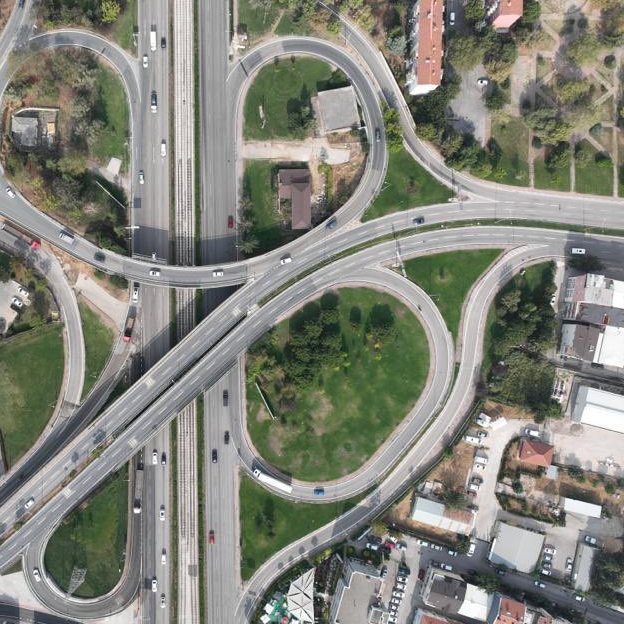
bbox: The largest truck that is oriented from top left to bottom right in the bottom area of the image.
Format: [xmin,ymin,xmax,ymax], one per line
[254,467,293,495]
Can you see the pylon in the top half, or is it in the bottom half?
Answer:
bottom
